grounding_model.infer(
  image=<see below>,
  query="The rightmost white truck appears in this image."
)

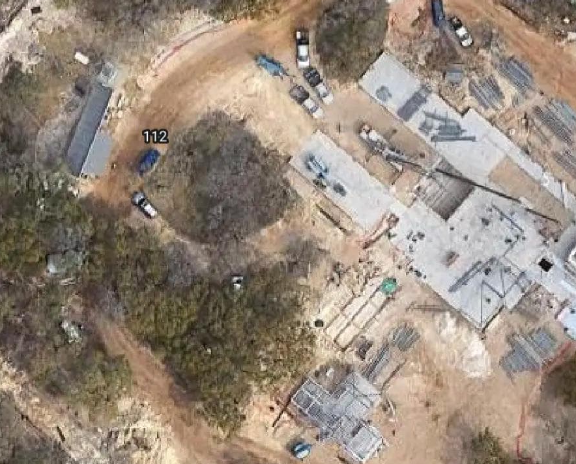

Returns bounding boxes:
[447,13,473,48]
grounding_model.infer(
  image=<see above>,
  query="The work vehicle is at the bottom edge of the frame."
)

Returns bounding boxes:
[294,440,314,459]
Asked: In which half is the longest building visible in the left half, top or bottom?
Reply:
top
